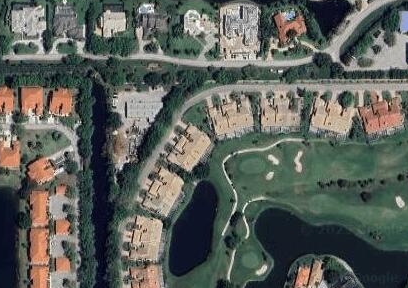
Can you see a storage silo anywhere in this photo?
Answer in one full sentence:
No, there is no storage silo in the image.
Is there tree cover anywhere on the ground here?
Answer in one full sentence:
Yes, tree cover shows up in the scene.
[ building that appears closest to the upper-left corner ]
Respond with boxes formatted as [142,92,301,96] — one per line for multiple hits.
[10,7,43,38]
